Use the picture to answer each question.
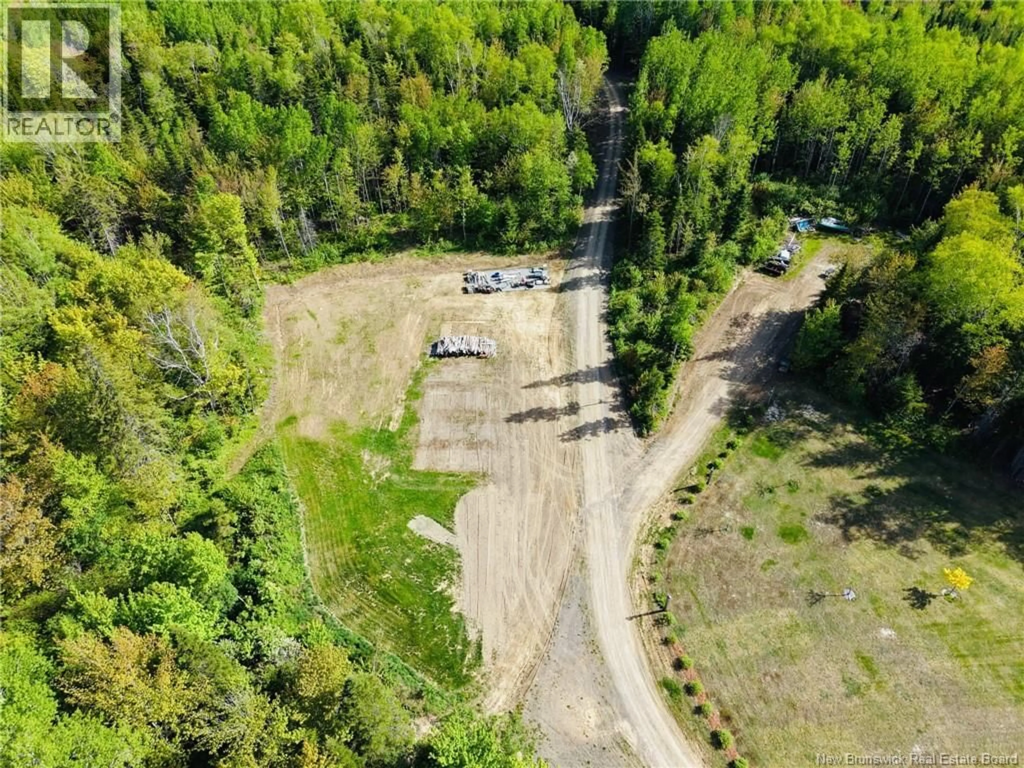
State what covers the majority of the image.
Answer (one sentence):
For the most part, this view shows trees.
